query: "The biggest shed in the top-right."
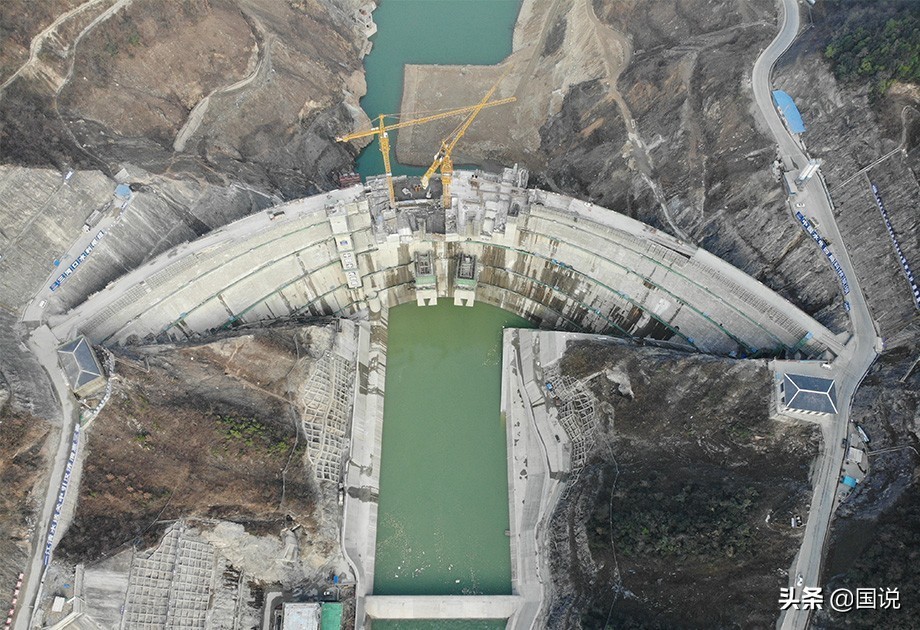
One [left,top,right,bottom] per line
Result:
[769,90,806,138]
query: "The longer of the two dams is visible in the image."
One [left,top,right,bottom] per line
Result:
[42,165,837,368]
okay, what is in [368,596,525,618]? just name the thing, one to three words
dam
